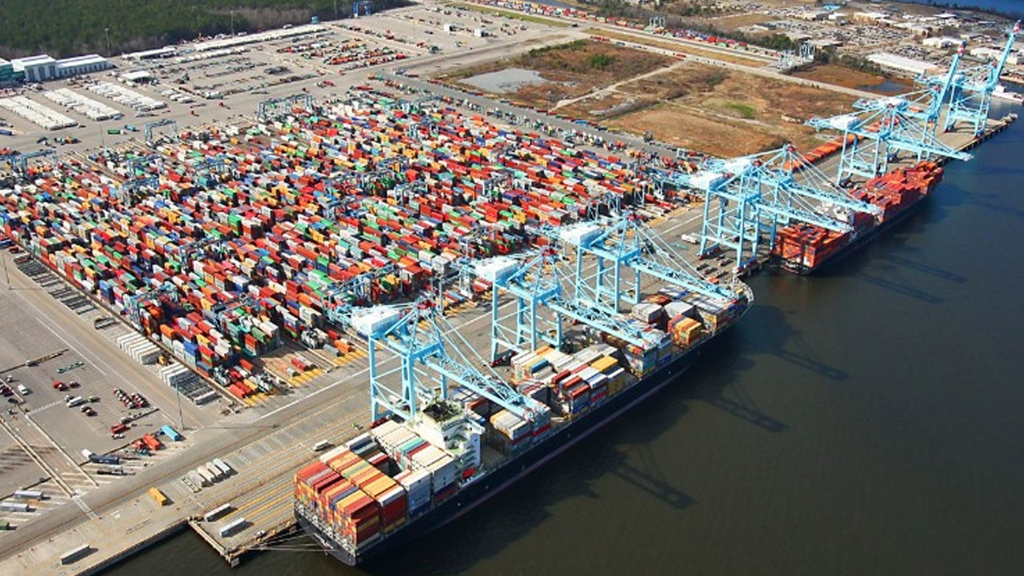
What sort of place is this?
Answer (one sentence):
The area seen from above is a port.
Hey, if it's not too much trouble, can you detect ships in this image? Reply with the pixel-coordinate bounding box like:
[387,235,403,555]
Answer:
[297,271,764,564]
[994,80,1024,102]
[774,164,946,271]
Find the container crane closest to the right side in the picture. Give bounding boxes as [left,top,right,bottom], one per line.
[920,16,1022,138]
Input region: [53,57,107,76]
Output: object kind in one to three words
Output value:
building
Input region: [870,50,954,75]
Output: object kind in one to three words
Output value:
building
